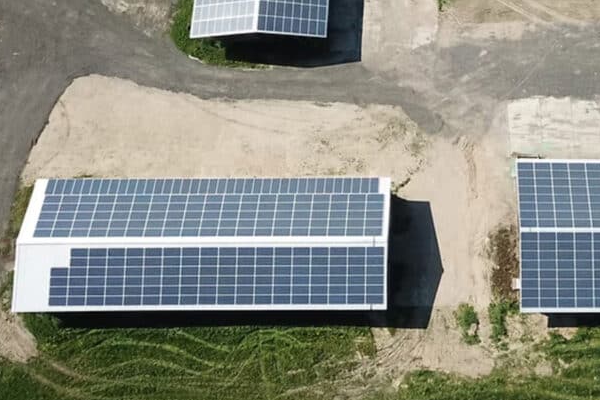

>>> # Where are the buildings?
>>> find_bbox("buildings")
[513,159,600,314]
[190,0,330,45]
[11,177,391,313]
